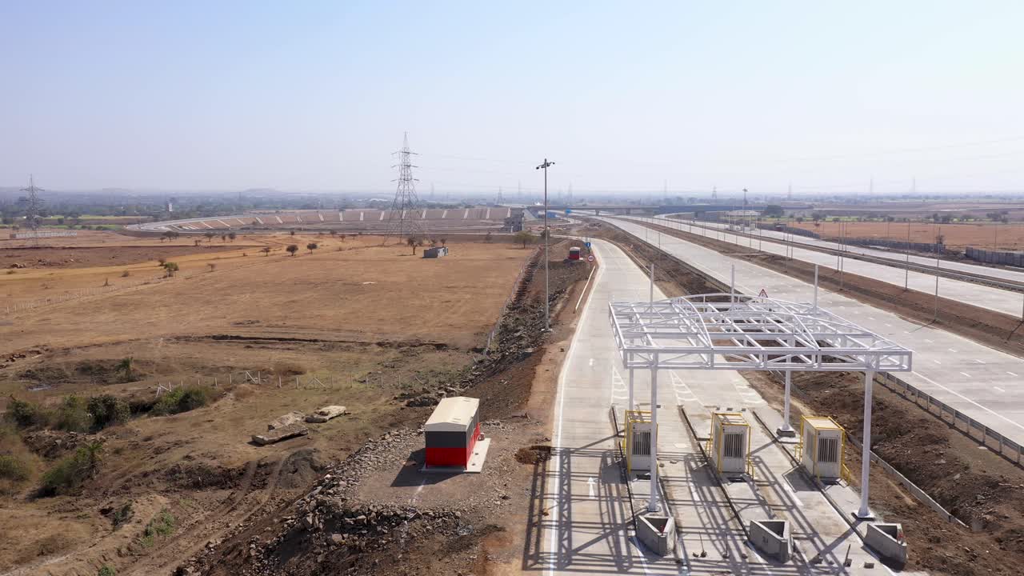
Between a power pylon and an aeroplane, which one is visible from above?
power pylon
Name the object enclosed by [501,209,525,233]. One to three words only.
building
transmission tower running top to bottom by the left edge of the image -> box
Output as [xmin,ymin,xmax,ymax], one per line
[21,172,50,246]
